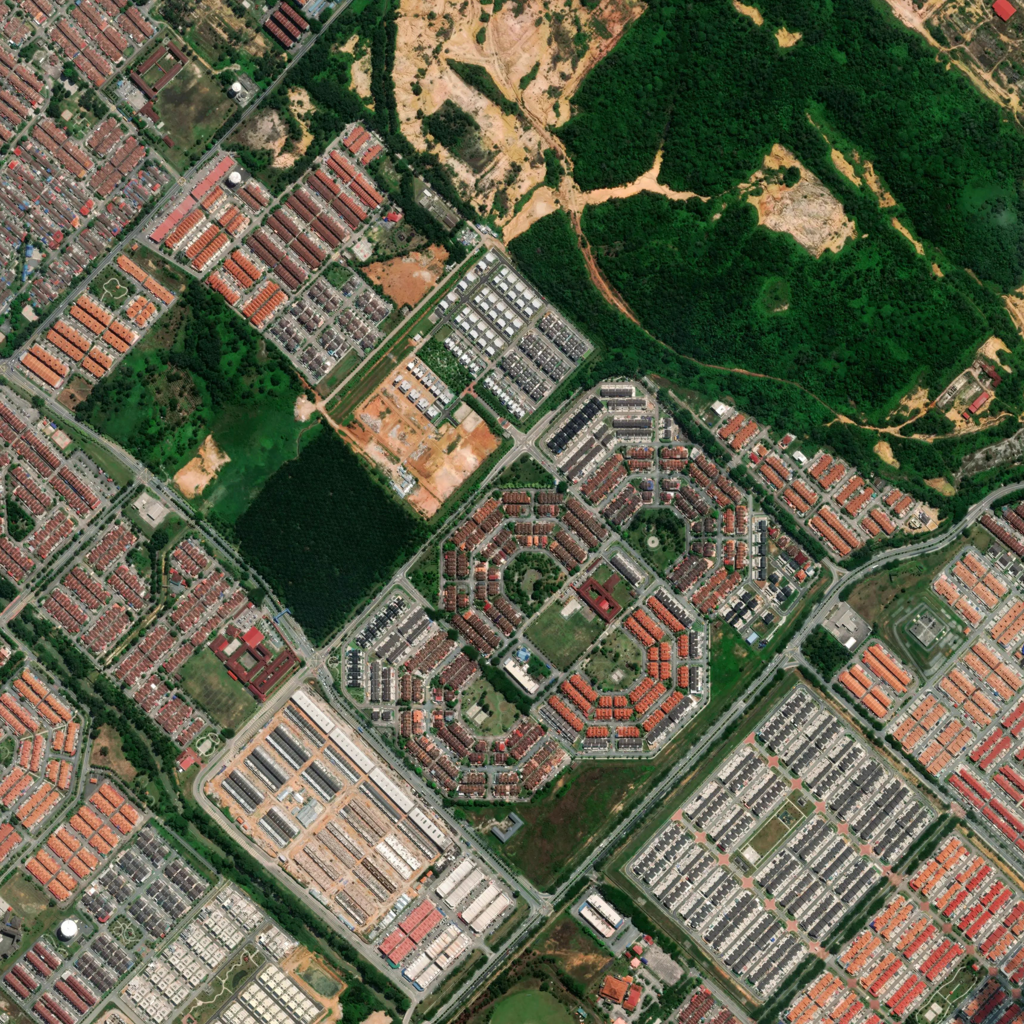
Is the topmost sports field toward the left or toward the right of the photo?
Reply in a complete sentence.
The topmost sports field sits on the left side.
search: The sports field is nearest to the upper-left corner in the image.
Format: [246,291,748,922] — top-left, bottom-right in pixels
[159,63,238,166]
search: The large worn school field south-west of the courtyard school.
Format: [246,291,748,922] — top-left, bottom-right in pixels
[530,606,603,670]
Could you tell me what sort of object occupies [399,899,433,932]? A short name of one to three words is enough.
building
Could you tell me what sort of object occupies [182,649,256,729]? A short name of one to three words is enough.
sports field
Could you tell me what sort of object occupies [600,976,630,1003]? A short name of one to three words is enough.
building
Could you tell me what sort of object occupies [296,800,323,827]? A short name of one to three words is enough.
shed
